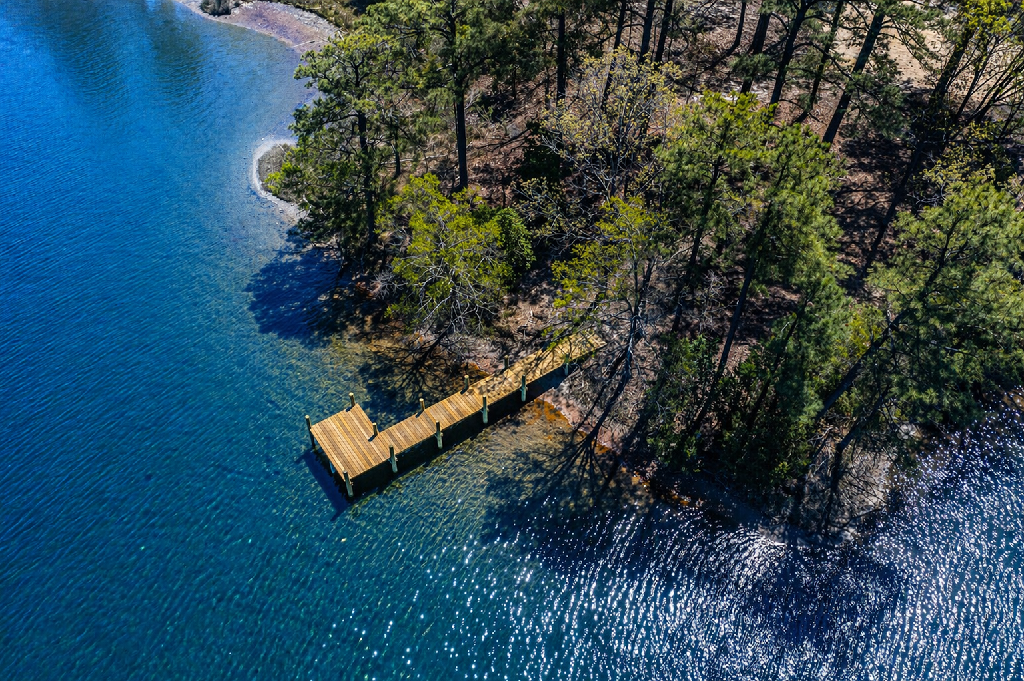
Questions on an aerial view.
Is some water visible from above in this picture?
Yes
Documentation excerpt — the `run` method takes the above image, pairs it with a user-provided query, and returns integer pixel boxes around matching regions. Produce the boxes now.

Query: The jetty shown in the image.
[311,328,607,502]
